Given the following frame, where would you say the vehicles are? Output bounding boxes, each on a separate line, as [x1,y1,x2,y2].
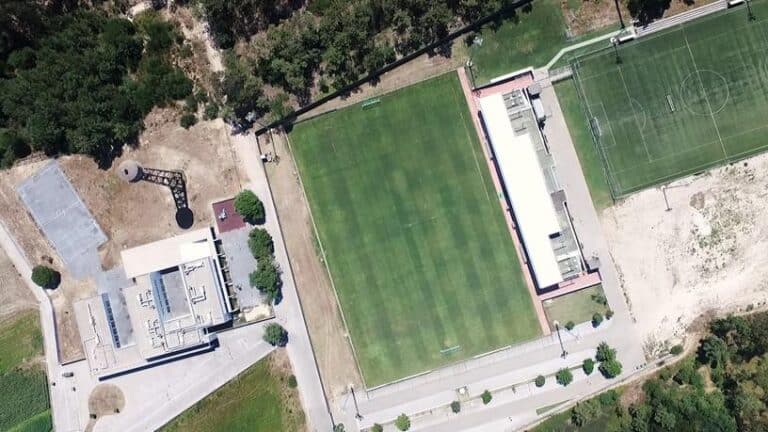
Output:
[62,372,73,377]
[535,99,547,116]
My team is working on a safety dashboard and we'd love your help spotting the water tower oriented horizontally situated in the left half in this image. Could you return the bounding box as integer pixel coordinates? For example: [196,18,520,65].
[119,161,188,190]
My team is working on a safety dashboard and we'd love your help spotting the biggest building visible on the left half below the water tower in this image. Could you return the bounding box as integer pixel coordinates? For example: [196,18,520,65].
[73,226,242,377]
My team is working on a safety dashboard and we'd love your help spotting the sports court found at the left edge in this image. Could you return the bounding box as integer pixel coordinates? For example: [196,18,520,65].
[16,160,108,280]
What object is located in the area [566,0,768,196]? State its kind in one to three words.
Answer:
soccer field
